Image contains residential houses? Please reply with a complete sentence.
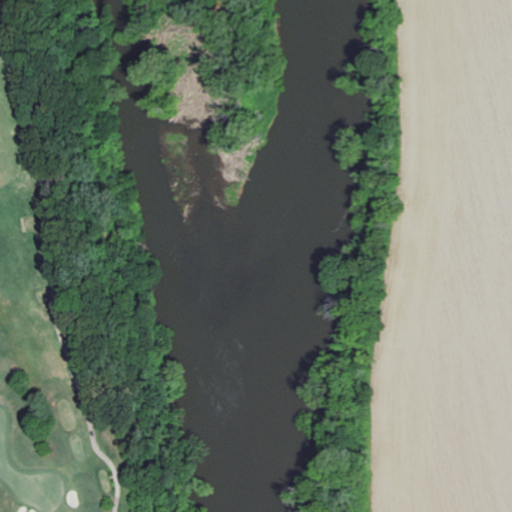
No, I can see no residential house in this picture.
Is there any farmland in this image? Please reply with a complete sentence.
Yes, there is farmland in the image.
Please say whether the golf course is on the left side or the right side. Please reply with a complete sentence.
The golf course is on the left side of the image.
